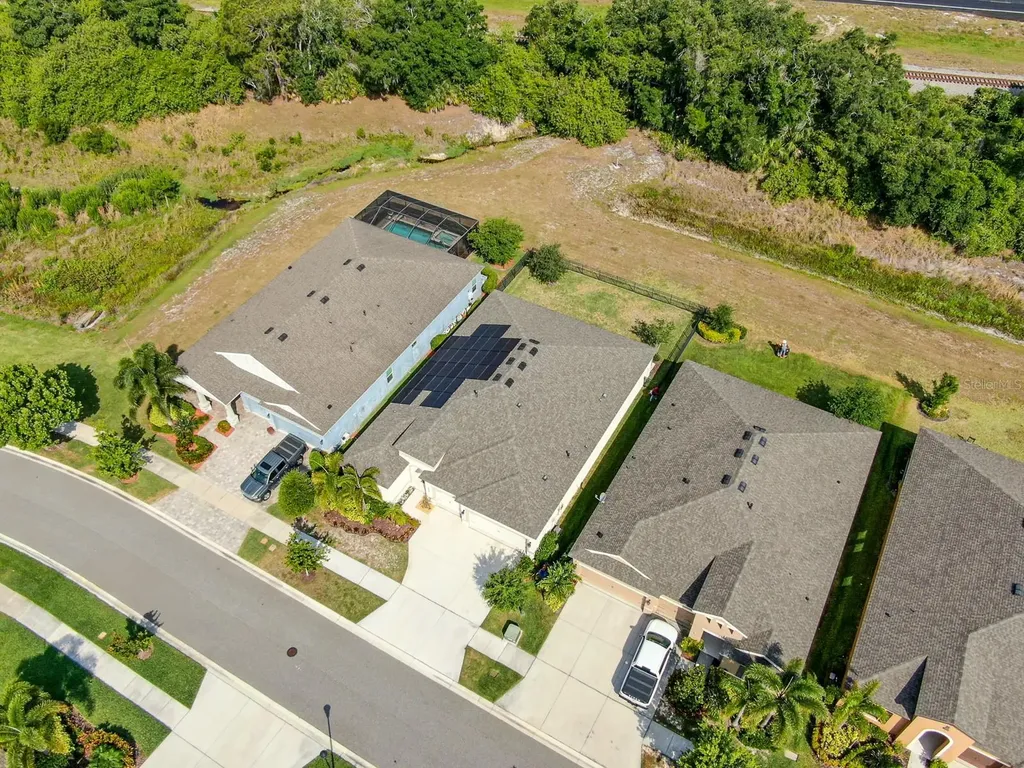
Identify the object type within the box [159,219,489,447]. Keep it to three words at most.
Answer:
house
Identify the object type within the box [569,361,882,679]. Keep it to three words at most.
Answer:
house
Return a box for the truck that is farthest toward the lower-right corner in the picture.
[617,614,683,703]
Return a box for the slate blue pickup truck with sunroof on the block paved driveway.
[241,439,306,505]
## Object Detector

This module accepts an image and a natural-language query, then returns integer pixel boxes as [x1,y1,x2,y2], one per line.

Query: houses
[159,219,489,447]
[569,361,882,679]
[840,426,1024,768]
[333,290,656,555]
